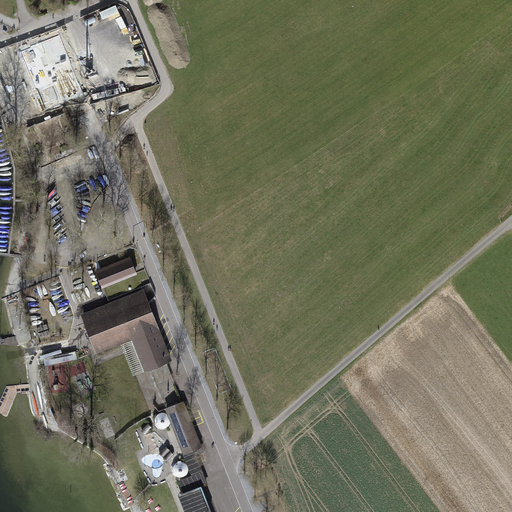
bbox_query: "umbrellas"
[172,462,188,478]
[154,414,170,430]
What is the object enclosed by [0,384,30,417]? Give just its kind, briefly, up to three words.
pier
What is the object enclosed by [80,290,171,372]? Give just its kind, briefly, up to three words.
building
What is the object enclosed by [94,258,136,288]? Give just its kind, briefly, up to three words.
shed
